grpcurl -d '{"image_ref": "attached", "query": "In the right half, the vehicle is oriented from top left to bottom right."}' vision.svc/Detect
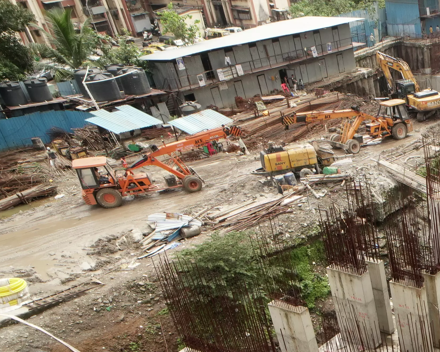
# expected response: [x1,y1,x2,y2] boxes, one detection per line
[378,50,440,120]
